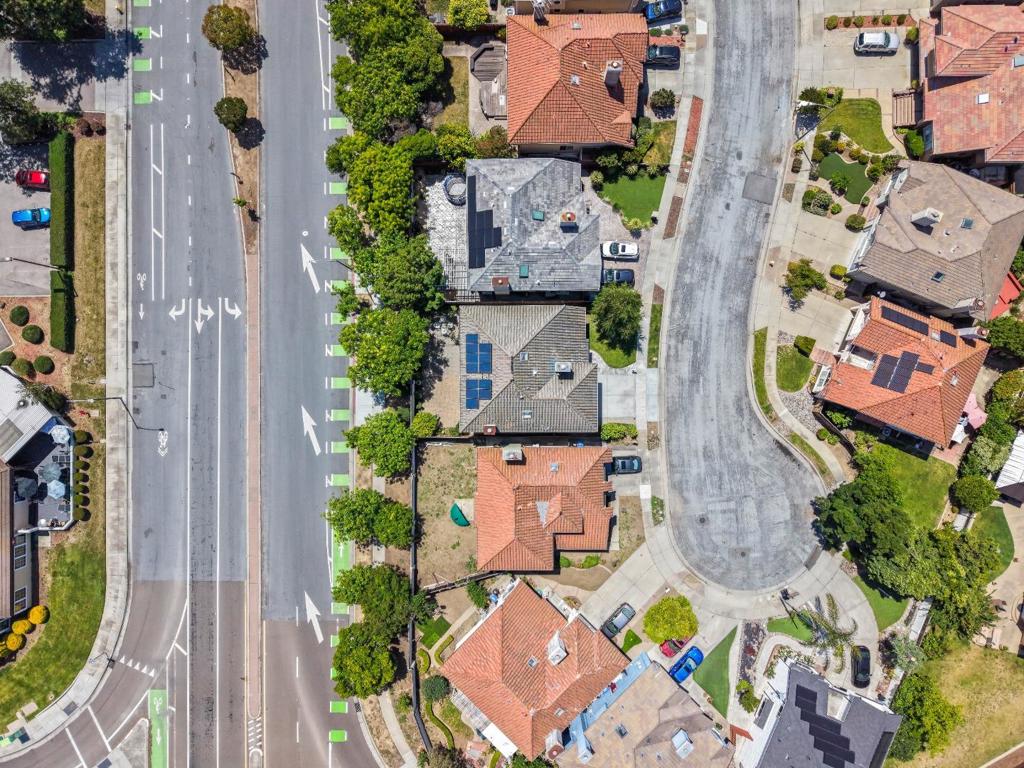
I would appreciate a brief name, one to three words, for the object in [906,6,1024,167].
house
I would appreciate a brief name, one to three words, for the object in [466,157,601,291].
house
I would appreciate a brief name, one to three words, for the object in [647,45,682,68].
car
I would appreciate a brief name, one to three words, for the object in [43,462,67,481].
umbrella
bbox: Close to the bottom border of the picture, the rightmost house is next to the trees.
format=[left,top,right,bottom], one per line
[737,649,905,768]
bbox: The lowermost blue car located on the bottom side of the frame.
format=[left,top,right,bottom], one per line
[669,645,707,681]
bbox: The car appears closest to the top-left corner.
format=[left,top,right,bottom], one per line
[14,170,53,189]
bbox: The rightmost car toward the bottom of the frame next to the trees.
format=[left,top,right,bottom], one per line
[850,645,873,687]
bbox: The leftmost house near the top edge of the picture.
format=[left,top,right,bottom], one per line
[505,0,648,153]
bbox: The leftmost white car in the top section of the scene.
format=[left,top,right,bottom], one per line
[601,240,640,259]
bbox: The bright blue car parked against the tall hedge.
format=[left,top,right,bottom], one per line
[8,208,53,229]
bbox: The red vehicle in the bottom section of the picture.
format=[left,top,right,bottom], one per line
[658,633,694,661]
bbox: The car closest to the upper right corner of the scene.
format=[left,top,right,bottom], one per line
[855,30,899,53]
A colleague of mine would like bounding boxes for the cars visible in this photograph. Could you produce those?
[647,45,682,68]
[8,208,53,229]
[669,645,707,681]
[850,645,873,687]
[14,170,53,189]
[601,268,636,286]
[855,30,899,53]
[658,633,694,661]
[600,602,637,640]
[601,240,640,259]
[612,456,643,474]
[644,0,686,23]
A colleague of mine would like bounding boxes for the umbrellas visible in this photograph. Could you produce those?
[963,394,978,408]
[49,480,70,498]
[53,424,72,443]
[19,476,43,497]
[950,424,963,440]
[43,462,67,481]
[960,406,985,430]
